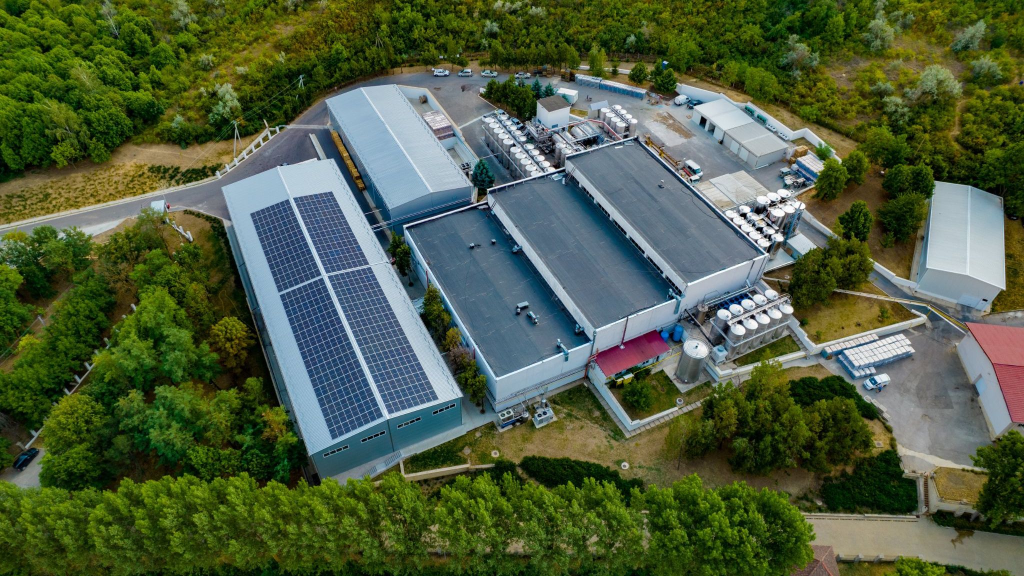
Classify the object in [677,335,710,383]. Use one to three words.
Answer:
storage tank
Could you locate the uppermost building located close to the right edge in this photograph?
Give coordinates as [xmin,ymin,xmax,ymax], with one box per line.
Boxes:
[916,181,1006,310]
